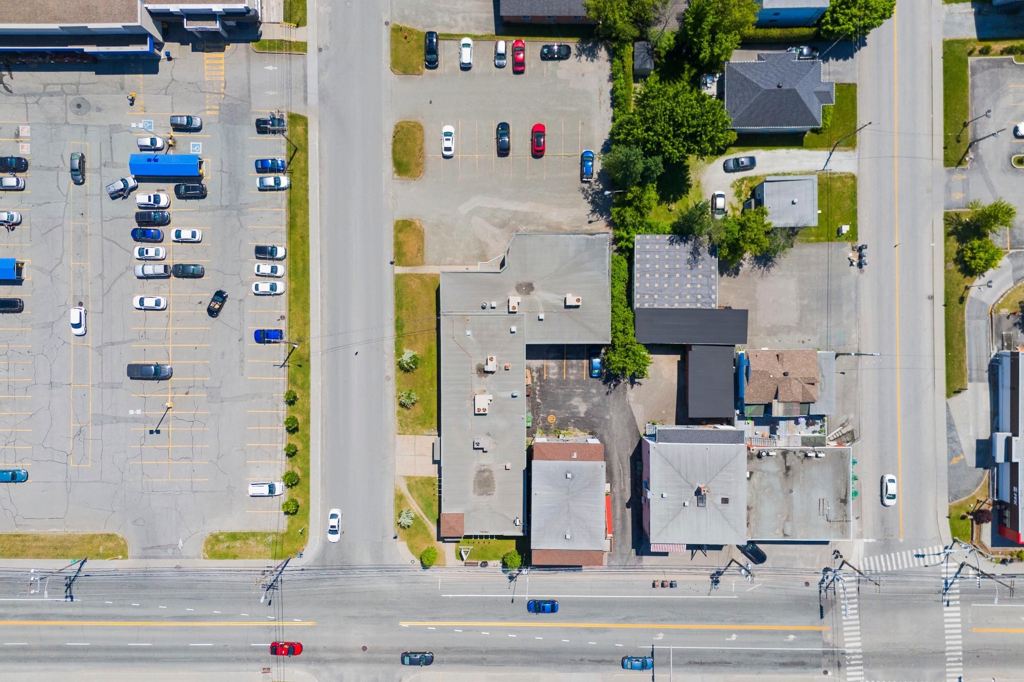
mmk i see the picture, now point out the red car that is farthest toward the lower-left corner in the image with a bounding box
[270,639,304,658]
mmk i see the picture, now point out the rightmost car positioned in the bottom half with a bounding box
[879,474,898,506]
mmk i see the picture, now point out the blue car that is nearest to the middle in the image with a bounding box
[589,348,604,378]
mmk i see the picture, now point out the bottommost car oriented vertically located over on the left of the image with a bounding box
[326,508,342,542]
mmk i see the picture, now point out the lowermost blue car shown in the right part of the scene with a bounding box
[621,654,653,672]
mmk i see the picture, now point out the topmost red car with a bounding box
[511,40,527,75]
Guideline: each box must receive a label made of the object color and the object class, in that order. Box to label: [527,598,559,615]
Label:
blue car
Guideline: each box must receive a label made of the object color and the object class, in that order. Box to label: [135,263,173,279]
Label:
white vehicle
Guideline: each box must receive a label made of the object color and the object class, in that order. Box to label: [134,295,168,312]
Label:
white car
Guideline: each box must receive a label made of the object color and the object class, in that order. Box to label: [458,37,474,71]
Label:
white car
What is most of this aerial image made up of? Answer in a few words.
paved ground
